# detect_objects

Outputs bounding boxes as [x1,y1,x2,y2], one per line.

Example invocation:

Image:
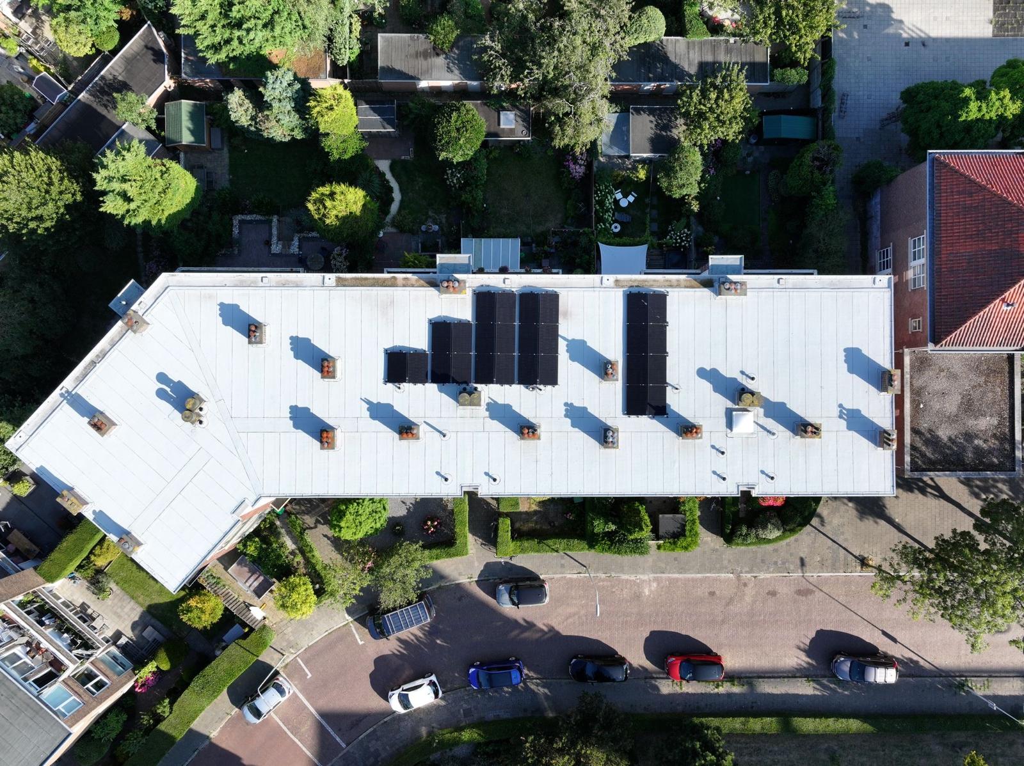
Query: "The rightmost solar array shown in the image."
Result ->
[625,290,669,420]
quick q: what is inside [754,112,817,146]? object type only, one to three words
shed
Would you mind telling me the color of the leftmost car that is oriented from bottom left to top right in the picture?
white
